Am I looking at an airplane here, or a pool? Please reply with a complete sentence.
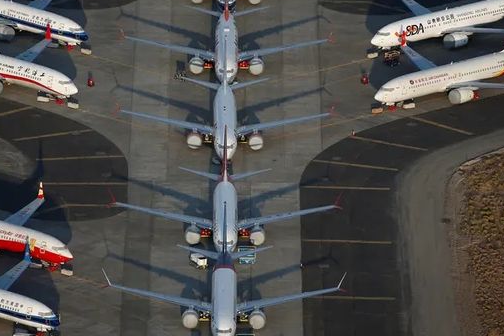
Looking from above, you can make out an airplane.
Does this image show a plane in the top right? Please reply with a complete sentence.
Yes, a plane can be seen in the top right.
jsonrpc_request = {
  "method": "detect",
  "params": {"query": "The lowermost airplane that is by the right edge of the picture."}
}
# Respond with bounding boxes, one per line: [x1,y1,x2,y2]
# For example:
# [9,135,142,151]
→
[375,31,504,110]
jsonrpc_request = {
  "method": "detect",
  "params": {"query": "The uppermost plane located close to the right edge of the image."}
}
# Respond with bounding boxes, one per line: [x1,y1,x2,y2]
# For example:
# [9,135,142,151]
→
[372,0,504,53]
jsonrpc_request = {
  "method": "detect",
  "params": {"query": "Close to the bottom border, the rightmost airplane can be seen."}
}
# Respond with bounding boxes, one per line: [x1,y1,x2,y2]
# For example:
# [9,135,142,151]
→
[103,203,345,336]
